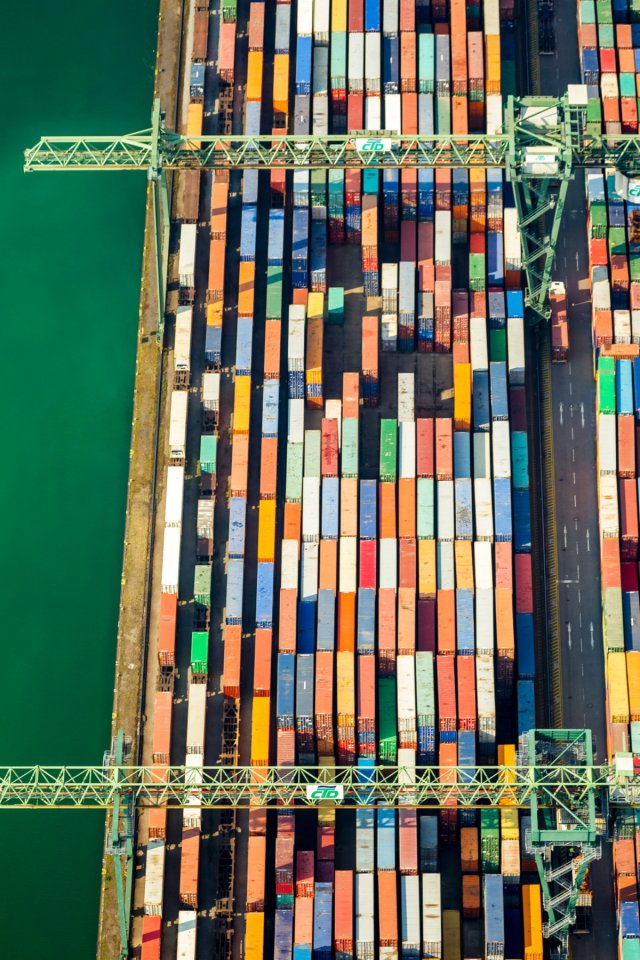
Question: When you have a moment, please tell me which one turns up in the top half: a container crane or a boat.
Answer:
container crane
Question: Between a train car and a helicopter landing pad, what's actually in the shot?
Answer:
train car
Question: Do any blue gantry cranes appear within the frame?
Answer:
No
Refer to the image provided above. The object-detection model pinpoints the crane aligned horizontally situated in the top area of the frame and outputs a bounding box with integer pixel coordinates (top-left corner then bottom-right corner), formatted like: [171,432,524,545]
[24,81,640,352]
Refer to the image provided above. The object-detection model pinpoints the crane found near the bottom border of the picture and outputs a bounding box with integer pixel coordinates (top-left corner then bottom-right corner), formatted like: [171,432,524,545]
[0,729,640,960]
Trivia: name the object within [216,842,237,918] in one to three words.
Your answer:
rail car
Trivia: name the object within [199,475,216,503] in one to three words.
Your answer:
rail car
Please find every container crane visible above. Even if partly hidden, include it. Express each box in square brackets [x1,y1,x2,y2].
[24,81,640,352]
[0,729,640,960]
